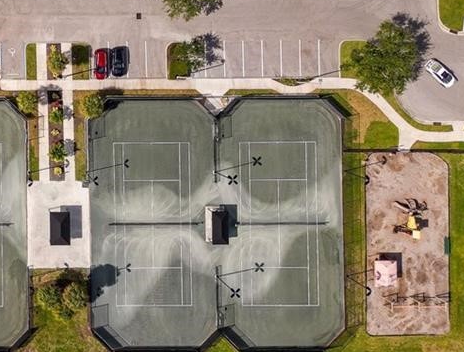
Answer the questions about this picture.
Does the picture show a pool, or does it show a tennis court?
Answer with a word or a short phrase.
tennis court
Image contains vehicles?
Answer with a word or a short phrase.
Yes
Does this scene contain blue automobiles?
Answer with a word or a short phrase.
No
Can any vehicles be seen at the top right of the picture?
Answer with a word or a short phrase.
Yes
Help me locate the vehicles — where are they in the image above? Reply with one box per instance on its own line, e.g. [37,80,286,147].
[112,44,128,78]
[95,46,110,80]
[426,59,460,88]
